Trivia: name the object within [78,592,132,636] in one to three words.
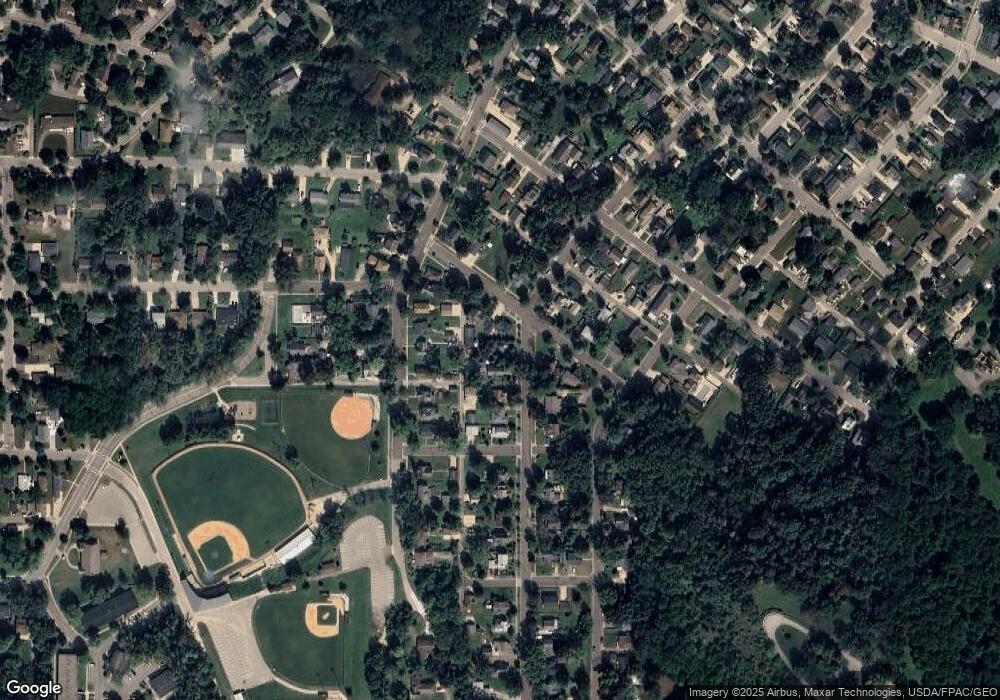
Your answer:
building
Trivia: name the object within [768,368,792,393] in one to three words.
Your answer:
house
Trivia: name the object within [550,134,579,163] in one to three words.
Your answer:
building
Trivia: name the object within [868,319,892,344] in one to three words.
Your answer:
house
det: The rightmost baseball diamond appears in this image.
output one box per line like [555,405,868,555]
[281,391,380,488]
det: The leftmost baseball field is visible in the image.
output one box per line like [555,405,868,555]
[152,443,308,586]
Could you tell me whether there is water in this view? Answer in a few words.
No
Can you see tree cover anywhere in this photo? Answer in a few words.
Yes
